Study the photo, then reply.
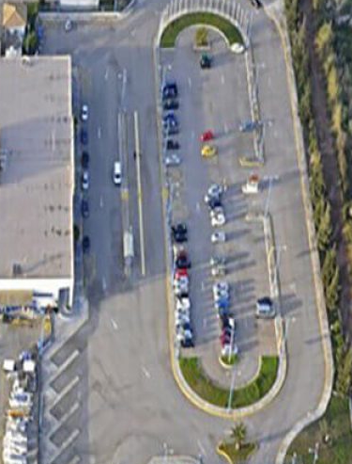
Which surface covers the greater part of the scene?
paved ground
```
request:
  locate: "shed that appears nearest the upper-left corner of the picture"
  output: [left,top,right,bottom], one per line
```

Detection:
[3,6,26,35]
